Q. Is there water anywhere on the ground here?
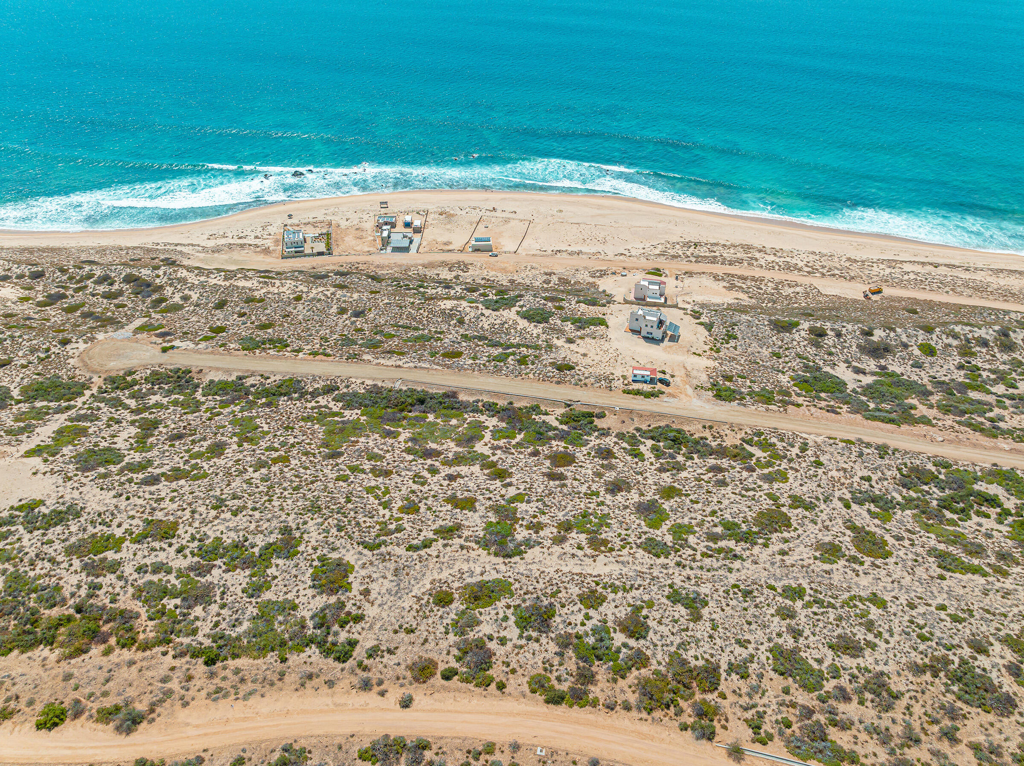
Yes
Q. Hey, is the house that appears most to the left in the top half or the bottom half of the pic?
top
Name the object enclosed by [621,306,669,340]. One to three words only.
house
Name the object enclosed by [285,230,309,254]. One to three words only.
house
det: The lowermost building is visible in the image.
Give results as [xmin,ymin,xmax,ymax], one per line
[632,366,659,384]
